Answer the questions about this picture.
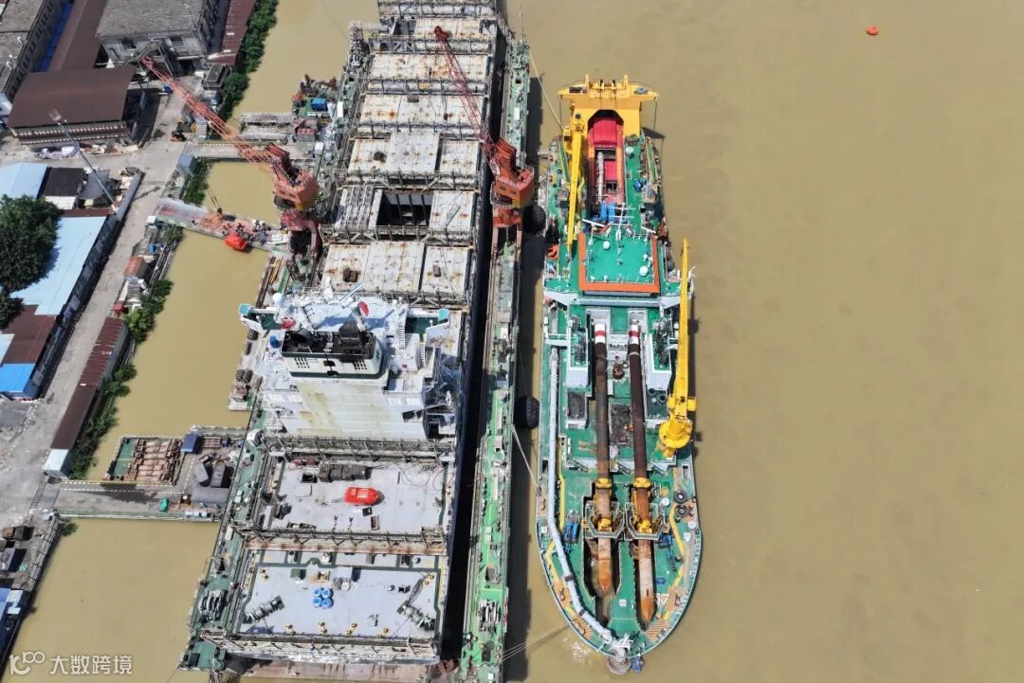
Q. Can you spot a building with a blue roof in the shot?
Yes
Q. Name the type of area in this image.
port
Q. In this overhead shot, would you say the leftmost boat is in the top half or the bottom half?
bottom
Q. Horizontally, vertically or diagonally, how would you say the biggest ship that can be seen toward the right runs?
vertically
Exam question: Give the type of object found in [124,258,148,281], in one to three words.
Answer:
shed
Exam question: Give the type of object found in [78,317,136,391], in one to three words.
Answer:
shed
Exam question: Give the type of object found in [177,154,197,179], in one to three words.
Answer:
building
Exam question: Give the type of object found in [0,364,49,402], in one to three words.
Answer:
building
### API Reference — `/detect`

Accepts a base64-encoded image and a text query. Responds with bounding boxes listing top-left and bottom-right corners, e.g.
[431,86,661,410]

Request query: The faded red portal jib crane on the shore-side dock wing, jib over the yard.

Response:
[140,57,318,268]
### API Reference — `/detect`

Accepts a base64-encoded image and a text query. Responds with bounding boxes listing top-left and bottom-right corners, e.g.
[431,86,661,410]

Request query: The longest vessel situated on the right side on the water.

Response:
[537,74,703,675]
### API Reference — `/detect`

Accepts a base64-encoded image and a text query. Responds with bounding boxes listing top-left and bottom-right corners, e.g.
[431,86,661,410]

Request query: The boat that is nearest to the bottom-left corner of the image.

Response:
[0,587,38,665]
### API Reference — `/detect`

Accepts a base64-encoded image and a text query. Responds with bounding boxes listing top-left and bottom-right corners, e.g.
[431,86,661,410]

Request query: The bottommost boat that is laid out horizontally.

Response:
[342,488,382,506]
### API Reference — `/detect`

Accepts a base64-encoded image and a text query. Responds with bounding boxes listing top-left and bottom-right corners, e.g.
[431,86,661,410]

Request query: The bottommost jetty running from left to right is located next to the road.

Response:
[56,480,229,522]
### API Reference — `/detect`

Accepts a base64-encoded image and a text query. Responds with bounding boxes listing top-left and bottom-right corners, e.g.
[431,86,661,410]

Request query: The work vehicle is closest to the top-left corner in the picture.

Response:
[172,127,191,141]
